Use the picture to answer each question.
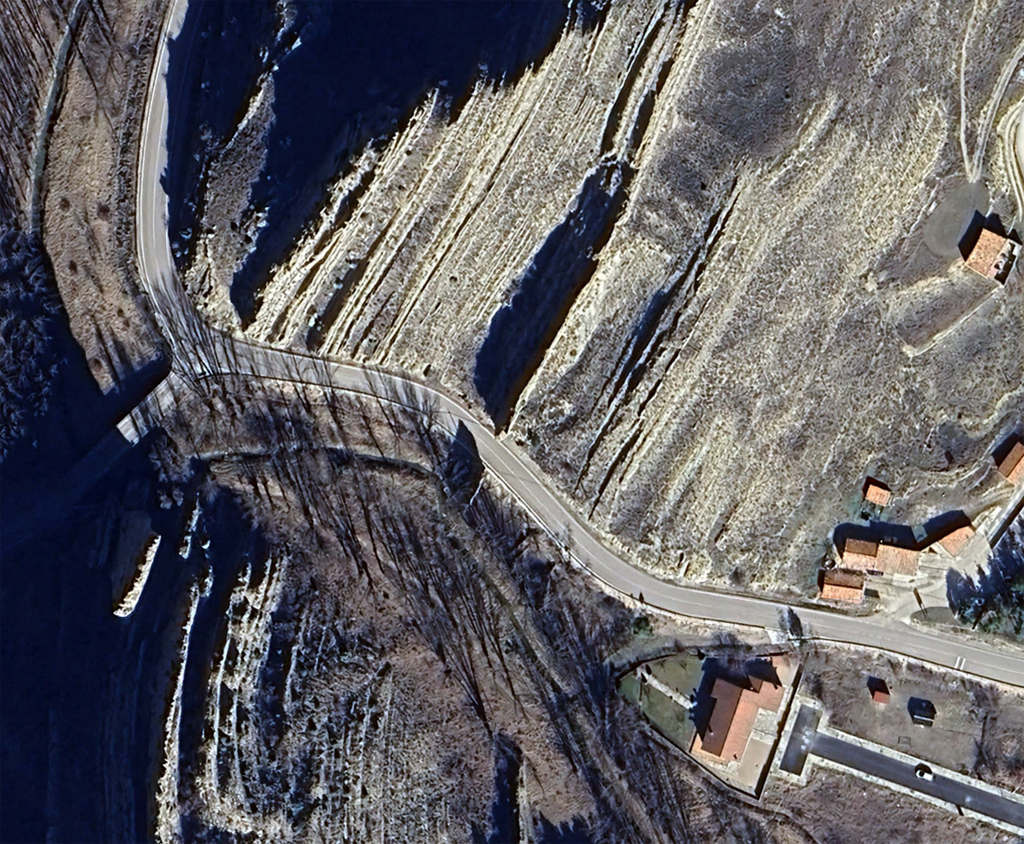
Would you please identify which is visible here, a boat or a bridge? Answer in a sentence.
Visible in the photo is a bridge.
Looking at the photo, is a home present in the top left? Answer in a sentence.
No, there is no home in the top left.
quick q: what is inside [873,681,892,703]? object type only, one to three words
shed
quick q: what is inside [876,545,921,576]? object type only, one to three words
building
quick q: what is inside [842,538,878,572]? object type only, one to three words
house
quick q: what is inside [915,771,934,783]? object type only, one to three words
vehicle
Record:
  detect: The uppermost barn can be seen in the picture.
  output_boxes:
[966,228,1024,285]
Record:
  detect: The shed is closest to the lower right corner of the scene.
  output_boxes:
[912,703,937,727]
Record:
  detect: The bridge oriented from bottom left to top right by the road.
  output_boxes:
[99,361,195,465]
